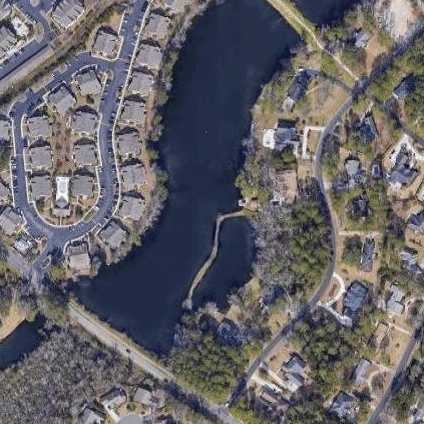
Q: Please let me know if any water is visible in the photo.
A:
Yes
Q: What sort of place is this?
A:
residential area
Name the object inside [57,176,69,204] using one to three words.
swimming pool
